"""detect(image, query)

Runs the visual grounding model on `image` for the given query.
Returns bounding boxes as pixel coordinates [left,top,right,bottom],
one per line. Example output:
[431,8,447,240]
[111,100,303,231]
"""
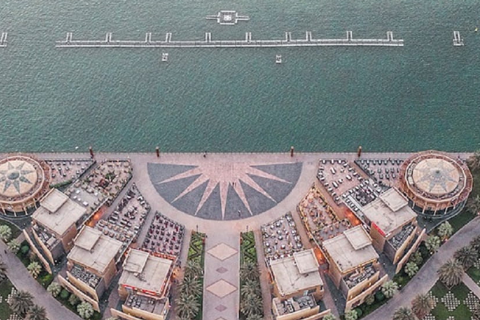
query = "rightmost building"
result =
[397,151,472,222]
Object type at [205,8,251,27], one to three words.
pier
